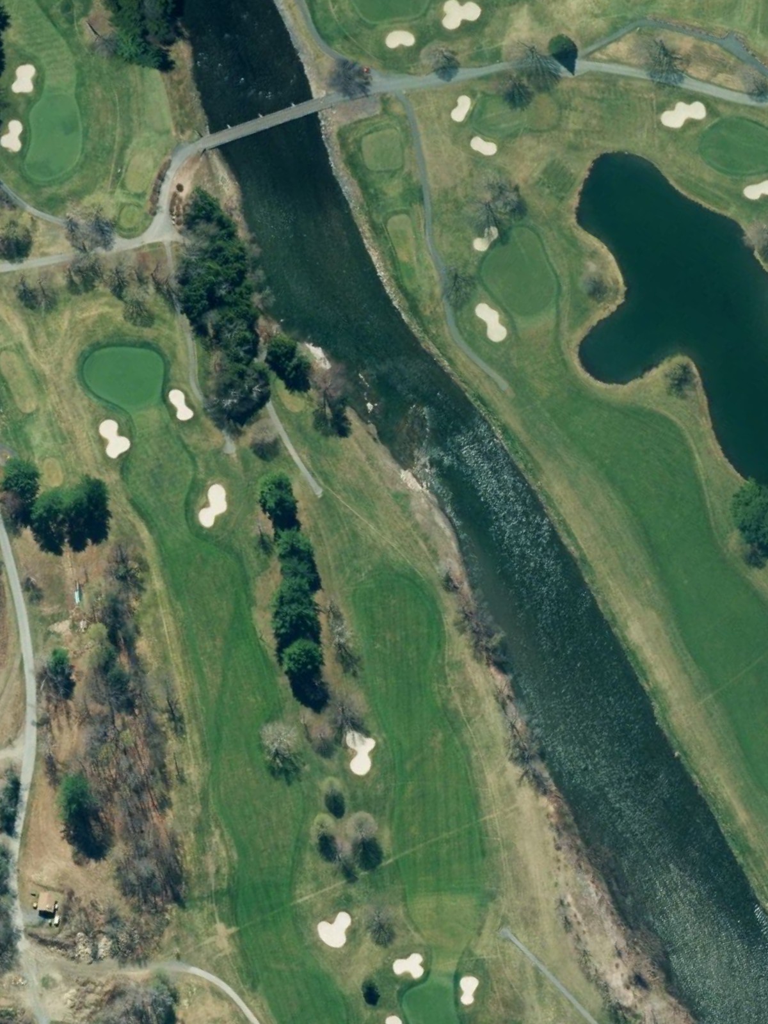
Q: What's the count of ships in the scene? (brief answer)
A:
zero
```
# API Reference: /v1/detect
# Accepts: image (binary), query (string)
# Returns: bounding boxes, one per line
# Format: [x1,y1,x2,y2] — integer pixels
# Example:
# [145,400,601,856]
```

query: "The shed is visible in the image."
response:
[36,892,55,913]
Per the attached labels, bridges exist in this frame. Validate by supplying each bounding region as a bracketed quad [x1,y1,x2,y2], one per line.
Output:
[194,86,347,153]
